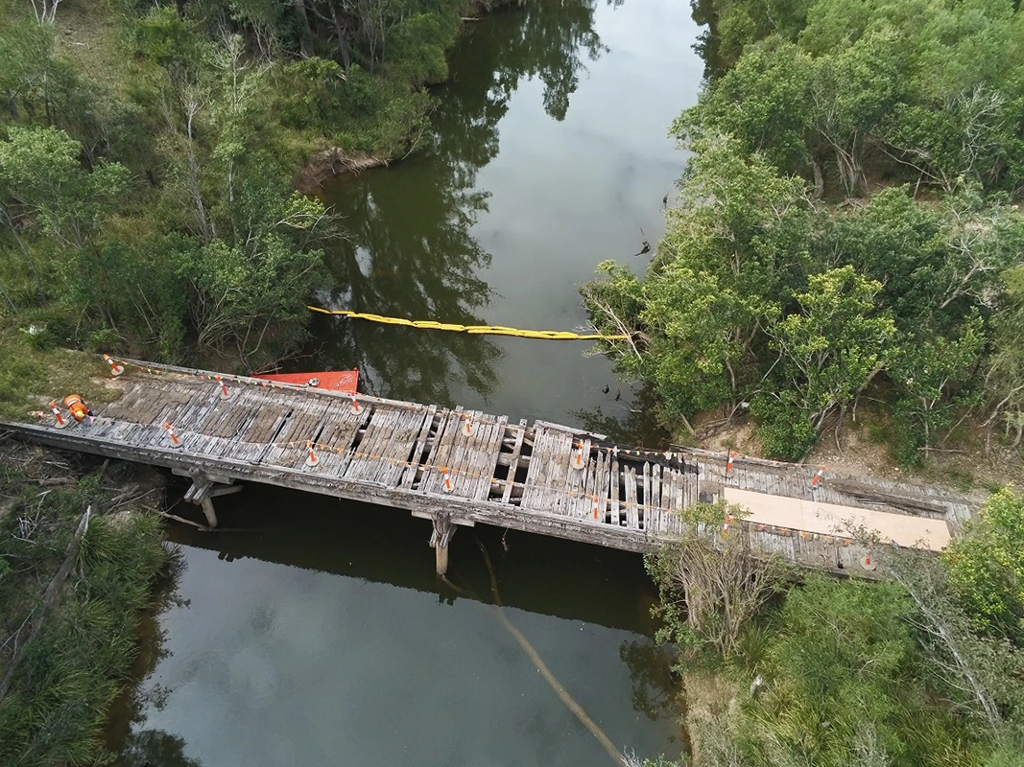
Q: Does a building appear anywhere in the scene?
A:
No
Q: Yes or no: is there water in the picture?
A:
Yes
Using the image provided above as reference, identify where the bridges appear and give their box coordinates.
[0,351,992,609]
